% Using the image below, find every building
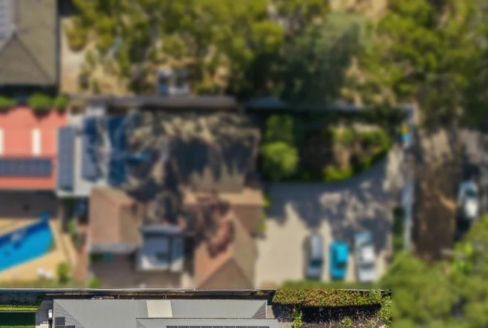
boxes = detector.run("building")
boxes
[0,104,67,193]
[88,111,264,289]
[48,299,280,328]
[0,0,59,92]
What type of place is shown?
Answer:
residential area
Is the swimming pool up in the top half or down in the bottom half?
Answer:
bottom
